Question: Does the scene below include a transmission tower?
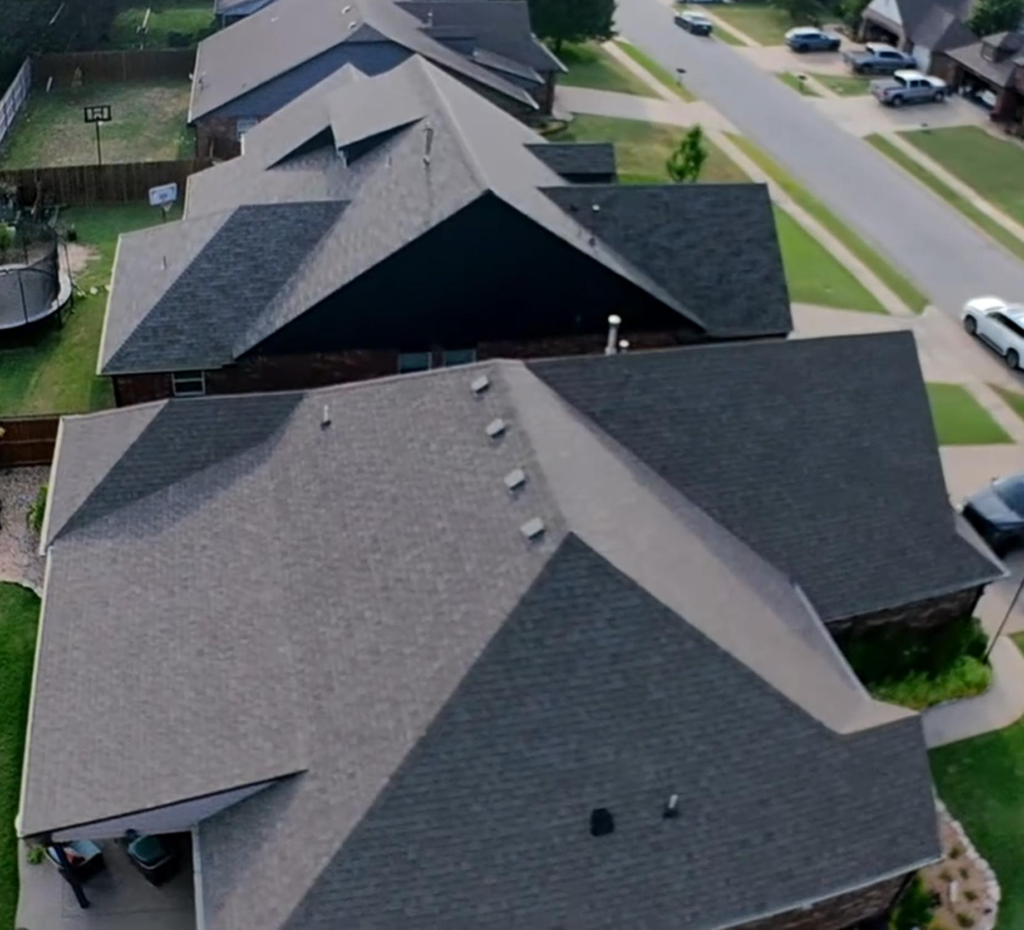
No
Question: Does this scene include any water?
No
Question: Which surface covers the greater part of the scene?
buildings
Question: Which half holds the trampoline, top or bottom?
top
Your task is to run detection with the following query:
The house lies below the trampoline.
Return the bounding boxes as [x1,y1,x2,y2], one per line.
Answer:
[14,315,1009,930]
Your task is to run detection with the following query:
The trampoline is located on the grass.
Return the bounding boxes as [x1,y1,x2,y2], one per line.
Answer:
[0,225,95,346]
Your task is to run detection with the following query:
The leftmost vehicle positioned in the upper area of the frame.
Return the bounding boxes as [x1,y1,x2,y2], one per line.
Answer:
[673,4,717,32]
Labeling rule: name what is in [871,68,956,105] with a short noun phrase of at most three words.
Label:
truck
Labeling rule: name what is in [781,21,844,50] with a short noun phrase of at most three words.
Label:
car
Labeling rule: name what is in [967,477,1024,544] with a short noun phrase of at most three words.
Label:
car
